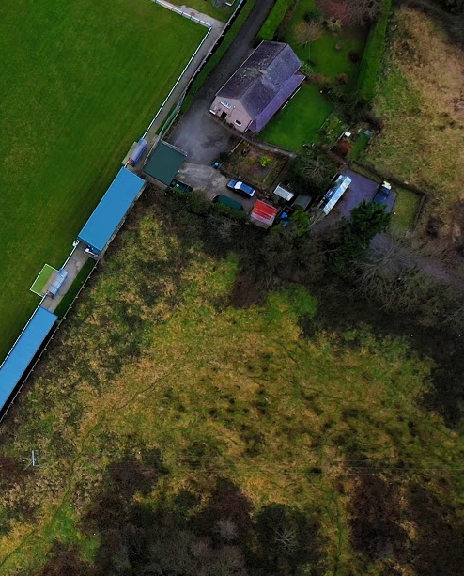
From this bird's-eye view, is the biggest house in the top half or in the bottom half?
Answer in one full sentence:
Seen from above, the biggest house lies in the top half of the view.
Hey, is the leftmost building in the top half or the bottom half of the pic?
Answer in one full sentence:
The top half of the photo is where the leftmost building is.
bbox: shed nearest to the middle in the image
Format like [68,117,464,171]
[250,201,278,228]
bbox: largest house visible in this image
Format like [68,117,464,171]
[210,40,307,136]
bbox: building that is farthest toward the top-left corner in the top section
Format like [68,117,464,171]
[141,140,188,192]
